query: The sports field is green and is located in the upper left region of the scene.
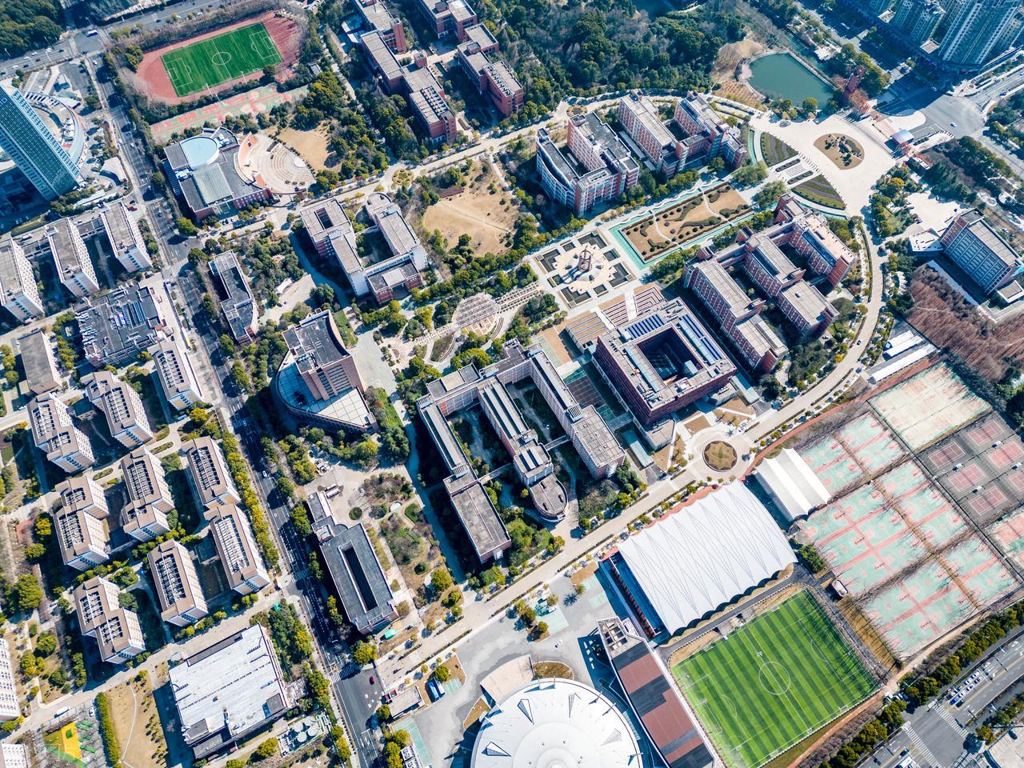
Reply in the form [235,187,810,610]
[159,21,284,97]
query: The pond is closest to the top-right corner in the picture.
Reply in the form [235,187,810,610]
[749,51,834,109]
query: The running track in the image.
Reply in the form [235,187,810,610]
[132,15,308,105]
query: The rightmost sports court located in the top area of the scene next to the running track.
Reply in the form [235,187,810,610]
[150,83,308,140]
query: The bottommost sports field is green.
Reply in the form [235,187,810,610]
[670,584,881,768]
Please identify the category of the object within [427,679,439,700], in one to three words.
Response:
vehicle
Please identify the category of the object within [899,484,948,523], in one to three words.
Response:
basketball court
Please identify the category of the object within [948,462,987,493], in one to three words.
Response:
tennis court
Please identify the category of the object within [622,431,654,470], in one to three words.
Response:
building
